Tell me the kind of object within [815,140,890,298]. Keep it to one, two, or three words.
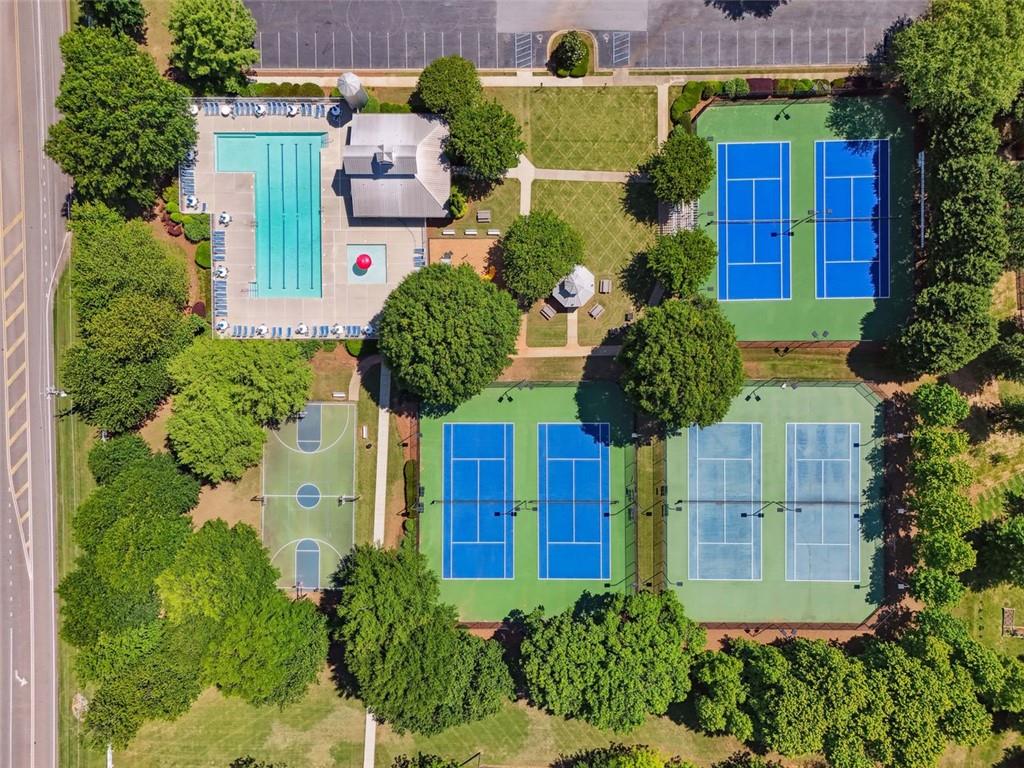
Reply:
tennis court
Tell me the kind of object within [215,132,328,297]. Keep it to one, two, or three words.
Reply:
swimming pool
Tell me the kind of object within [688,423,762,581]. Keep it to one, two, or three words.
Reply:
tennis court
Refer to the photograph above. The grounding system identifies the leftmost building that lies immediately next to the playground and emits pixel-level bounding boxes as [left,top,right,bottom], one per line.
[344,113,450,218]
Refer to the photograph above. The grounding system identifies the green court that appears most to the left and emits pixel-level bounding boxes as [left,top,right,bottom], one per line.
[262,402,357,590]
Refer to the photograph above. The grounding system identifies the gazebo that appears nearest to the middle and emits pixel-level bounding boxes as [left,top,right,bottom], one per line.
[553,265,595,307]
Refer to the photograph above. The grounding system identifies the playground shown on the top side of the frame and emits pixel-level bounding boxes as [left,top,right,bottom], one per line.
[429,238,512,291]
